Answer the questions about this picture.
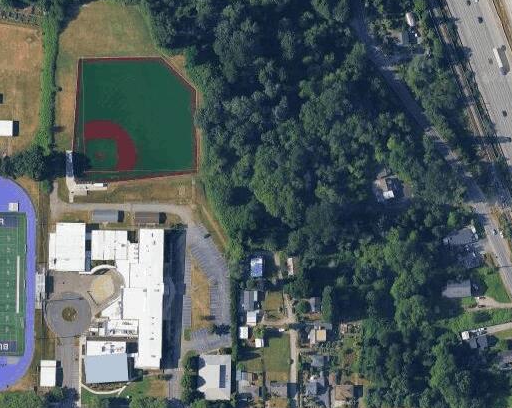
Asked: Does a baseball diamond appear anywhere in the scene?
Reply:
Yes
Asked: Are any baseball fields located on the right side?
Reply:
No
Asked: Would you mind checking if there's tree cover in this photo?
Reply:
Yes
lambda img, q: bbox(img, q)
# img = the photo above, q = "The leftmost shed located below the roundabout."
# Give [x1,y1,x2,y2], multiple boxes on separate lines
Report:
[40,360,56,386]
